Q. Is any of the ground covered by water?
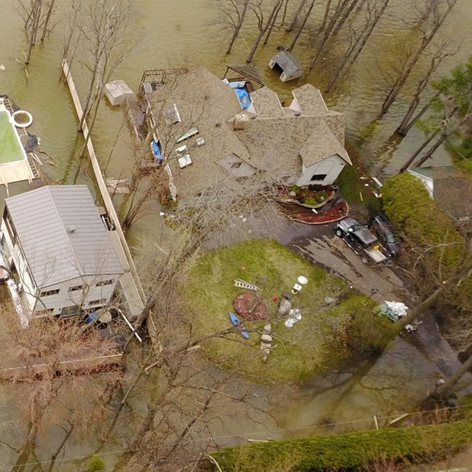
Yes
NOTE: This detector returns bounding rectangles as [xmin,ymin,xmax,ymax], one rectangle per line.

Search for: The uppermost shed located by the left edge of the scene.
[0,183,127,315]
